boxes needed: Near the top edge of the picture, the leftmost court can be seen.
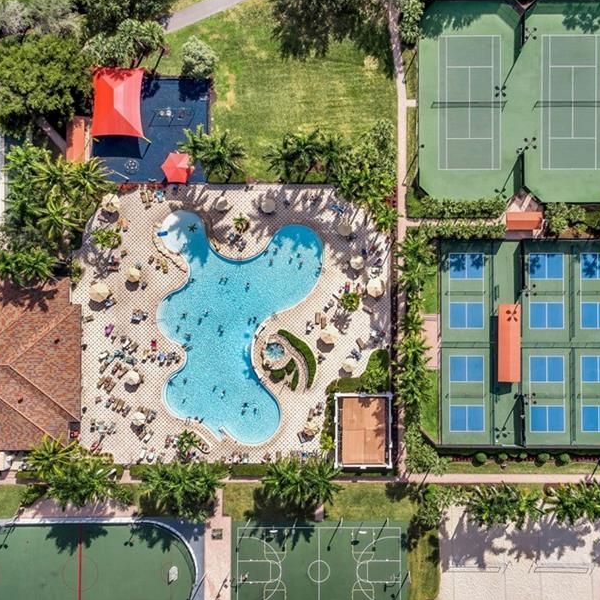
[418,0,523,200]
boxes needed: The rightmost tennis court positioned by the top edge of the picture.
[523,0,600,200]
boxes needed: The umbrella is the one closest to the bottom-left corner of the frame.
[132,410,147,425]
